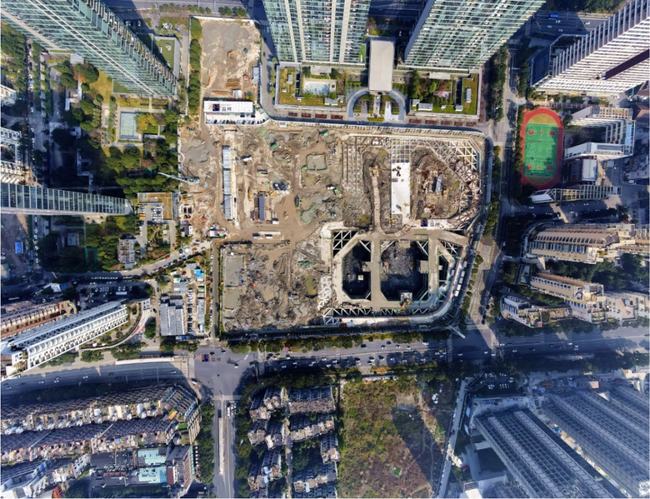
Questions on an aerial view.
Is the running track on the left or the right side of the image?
right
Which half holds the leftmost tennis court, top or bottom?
top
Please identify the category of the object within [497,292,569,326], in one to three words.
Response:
house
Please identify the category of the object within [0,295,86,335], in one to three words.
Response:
building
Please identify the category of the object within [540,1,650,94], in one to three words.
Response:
building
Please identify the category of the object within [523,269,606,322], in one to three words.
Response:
house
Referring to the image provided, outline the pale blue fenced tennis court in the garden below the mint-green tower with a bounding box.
[114,109,144,141]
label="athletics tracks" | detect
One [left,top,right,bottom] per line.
[521,107,562,189]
